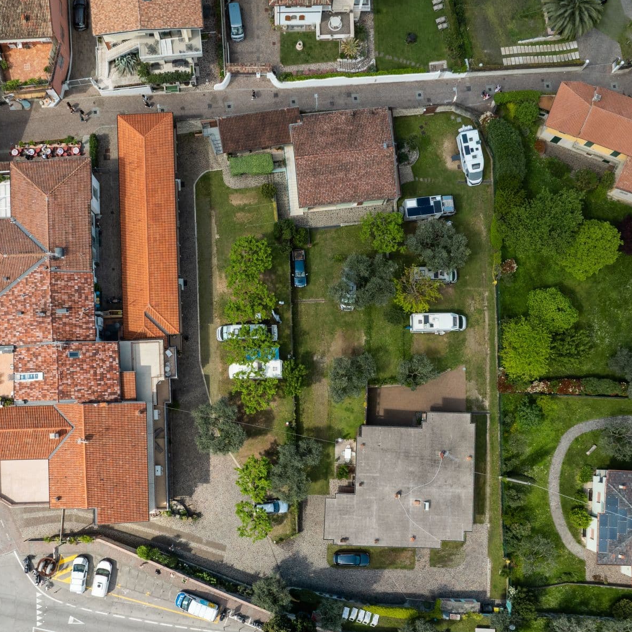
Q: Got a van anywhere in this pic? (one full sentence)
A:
Yes, the picture does show a van.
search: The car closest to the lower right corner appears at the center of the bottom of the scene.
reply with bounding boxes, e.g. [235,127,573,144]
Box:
[333,549,369,567]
